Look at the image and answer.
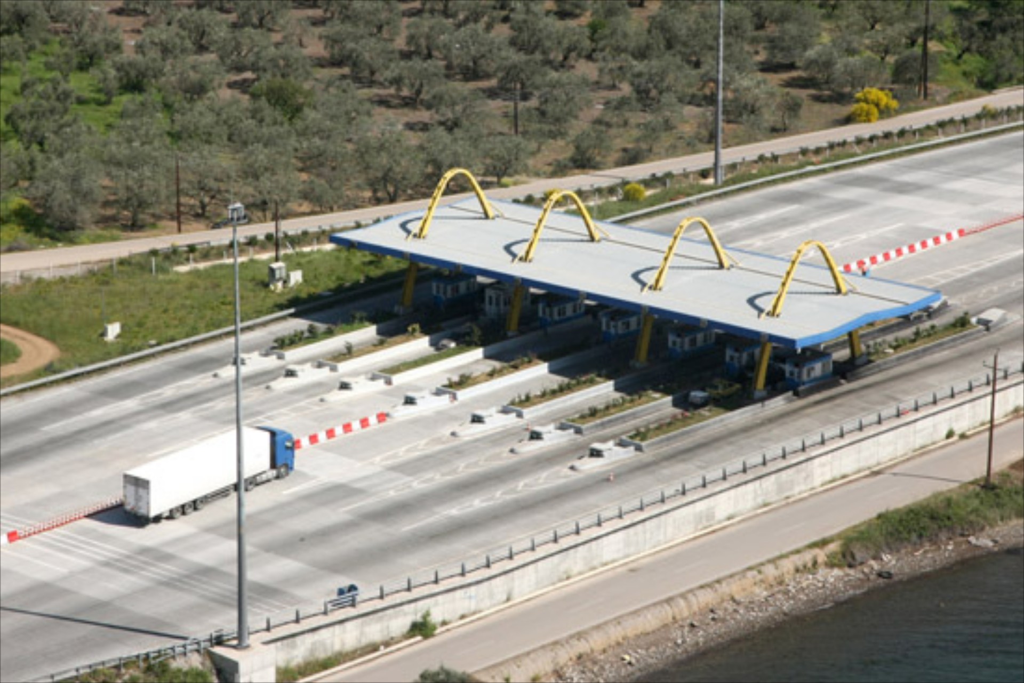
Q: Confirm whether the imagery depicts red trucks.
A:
No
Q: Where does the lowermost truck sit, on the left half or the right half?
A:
left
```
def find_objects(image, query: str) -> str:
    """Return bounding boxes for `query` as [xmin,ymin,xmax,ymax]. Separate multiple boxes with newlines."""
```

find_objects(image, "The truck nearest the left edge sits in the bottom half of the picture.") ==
[122,423,296,526]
